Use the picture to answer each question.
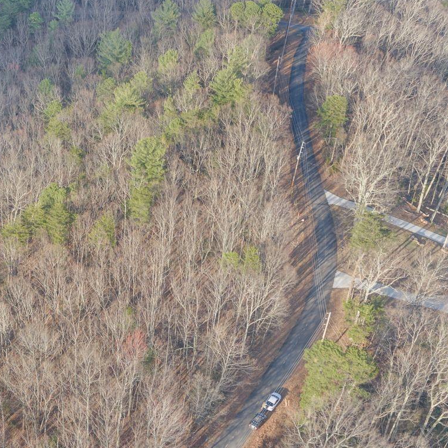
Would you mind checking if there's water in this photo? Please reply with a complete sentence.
No, the picture contains no water.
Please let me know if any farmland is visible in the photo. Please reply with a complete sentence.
No, the scene doesn't show any farmland.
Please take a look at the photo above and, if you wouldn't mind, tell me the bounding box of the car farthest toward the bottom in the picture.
[249,411,266,429]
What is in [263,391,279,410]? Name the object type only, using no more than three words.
car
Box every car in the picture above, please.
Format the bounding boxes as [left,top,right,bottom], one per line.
[249,411,266,429]
[263,391,279,410]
